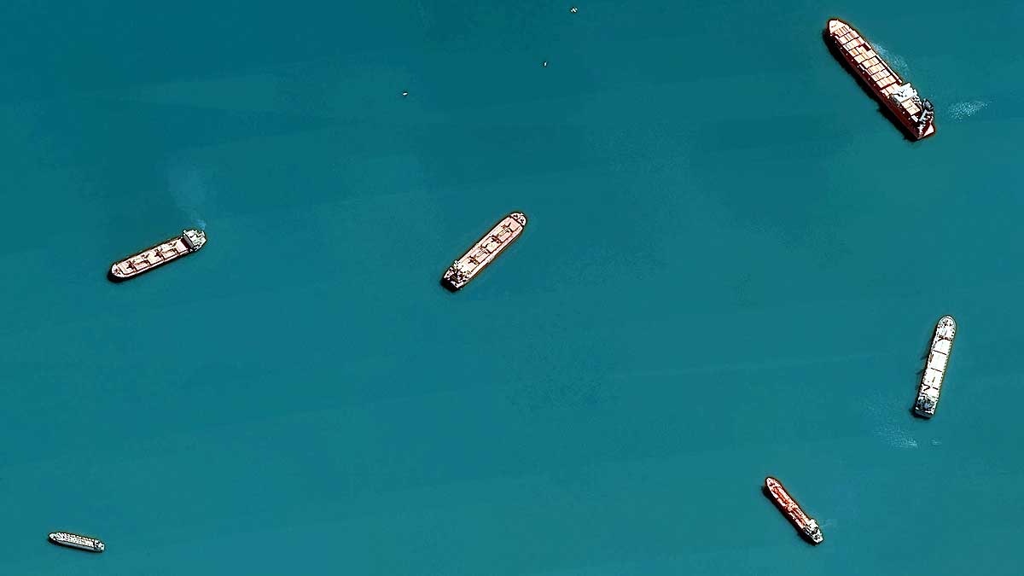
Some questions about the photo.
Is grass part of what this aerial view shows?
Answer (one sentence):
No, the picture contains no grass.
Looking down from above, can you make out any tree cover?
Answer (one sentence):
No, the picture contains no tree cover.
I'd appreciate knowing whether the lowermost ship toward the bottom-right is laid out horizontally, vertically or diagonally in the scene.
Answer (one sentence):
From this overhead view, the lowermost ship toward the bottom-right appears to run diagonally.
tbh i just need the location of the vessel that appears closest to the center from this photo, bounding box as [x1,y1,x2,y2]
[445,212,527,287]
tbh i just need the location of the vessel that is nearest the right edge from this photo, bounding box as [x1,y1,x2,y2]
[916,315,955,416]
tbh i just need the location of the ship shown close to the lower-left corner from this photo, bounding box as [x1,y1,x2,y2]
[50,532,105,551]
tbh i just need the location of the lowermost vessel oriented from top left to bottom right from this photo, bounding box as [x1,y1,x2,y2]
[767,476,824,543]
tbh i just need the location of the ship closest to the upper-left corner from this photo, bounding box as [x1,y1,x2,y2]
[111,229,209,277]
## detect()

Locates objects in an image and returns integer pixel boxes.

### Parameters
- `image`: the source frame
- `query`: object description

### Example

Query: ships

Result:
[916,315,955,416]
[111,229,209,277]
[767,476,824,543]
[445,212,527,287]
[829,16,934,137]
[50,532,105,551]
